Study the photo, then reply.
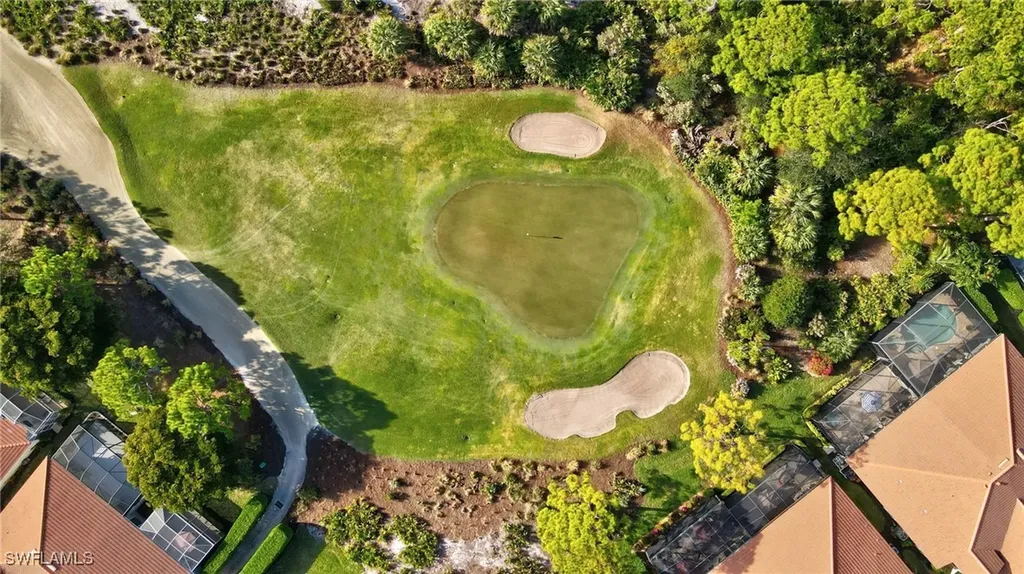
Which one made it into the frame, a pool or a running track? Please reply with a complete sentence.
I can see a pool in this picture.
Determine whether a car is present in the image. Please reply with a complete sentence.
No, I can see no car in this picture.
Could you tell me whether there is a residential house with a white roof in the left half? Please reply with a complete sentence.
No, I can find no residential house with a white roof in the left half.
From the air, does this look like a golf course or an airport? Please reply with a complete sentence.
This looks like a golf course.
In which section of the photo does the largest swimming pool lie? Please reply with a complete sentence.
You can find the largest swimming pool in the right area of the picture.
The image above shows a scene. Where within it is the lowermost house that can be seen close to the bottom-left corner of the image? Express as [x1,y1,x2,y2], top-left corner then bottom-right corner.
[0,457,198,574]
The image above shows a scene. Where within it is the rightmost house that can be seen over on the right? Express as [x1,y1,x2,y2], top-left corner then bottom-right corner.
[843,334,1024,574]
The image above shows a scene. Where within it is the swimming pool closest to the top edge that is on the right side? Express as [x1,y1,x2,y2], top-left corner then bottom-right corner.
[907,303,960,348]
